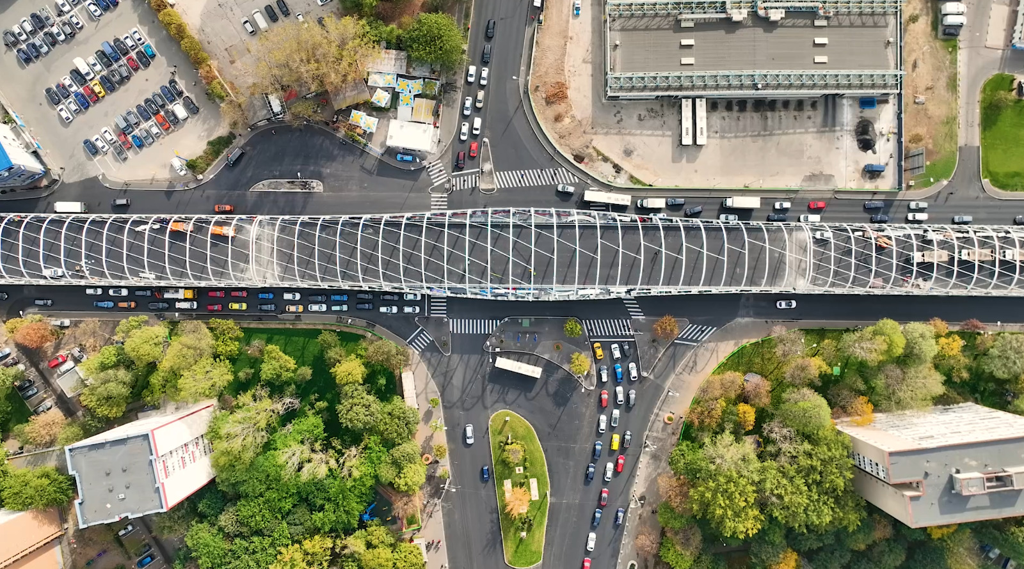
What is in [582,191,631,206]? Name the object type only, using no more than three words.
vehicle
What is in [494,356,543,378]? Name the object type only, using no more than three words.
bus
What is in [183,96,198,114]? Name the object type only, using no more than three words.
car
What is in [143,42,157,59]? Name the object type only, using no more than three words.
car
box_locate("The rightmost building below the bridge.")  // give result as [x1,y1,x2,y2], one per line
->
[833,404,1024,528]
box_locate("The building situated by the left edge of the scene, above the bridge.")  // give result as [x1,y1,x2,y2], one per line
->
[0,98,42,185]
